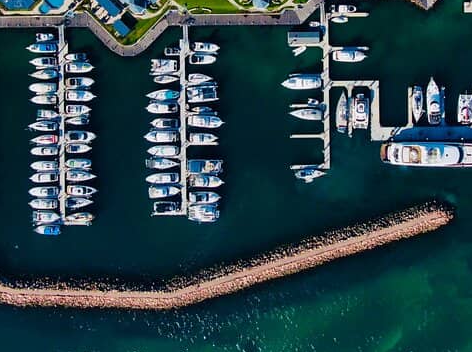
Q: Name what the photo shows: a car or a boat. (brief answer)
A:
boat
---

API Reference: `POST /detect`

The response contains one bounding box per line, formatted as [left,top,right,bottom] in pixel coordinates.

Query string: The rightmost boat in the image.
[458,95,472,123]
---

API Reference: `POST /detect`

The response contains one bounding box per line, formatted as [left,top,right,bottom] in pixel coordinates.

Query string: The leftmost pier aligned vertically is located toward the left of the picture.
[35,26,92,225]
